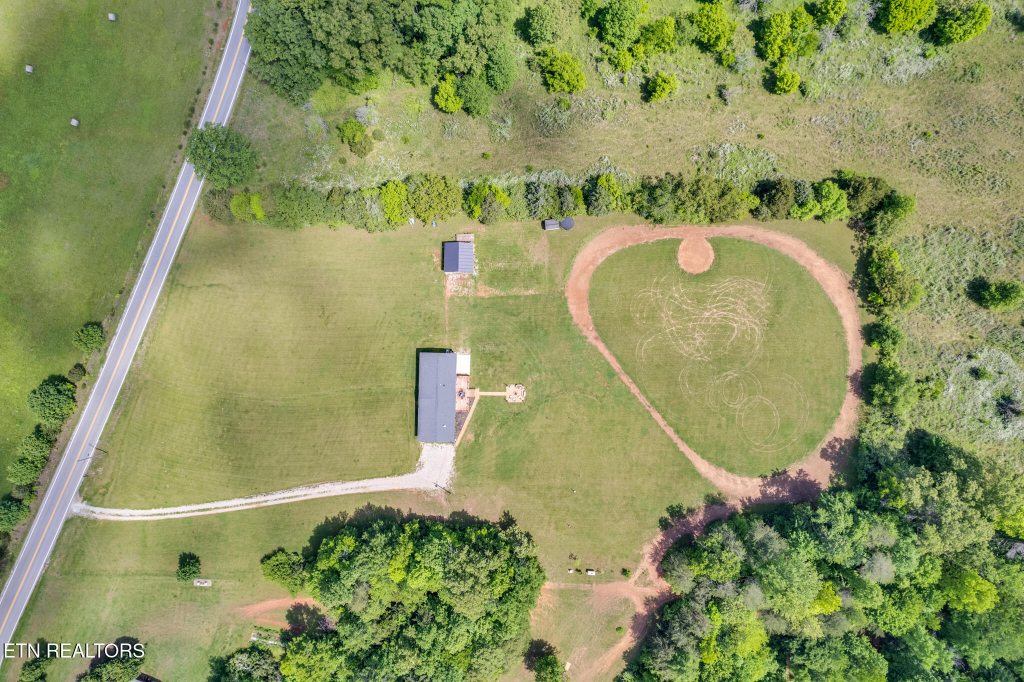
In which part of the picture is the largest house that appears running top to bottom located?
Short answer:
center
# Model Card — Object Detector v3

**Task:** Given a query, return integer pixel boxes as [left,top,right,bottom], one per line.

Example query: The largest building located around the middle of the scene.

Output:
[417,352,457,444]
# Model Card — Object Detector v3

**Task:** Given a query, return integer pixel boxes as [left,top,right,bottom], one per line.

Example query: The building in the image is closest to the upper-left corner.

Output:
[444,242,474,273]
